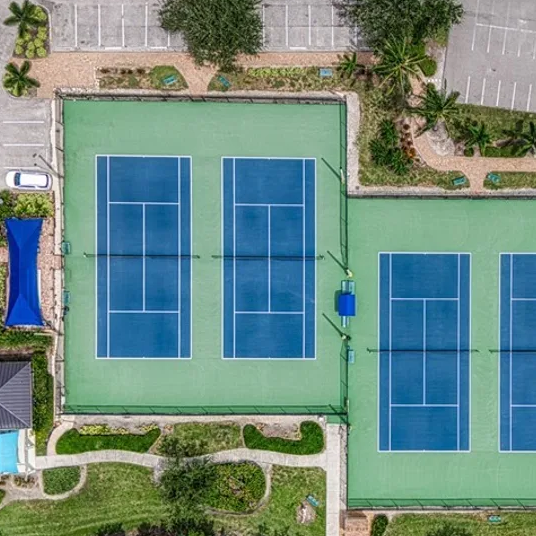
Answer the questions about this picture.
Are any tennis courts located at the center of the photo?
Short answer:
Yes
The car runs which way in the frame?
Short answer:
horizontally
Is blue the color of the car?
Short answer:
No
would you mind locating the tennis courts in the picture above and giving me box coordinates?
[63,100,207,414]
[207,101,347,414]
[347,198,484,508]
[484,198,536,508]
